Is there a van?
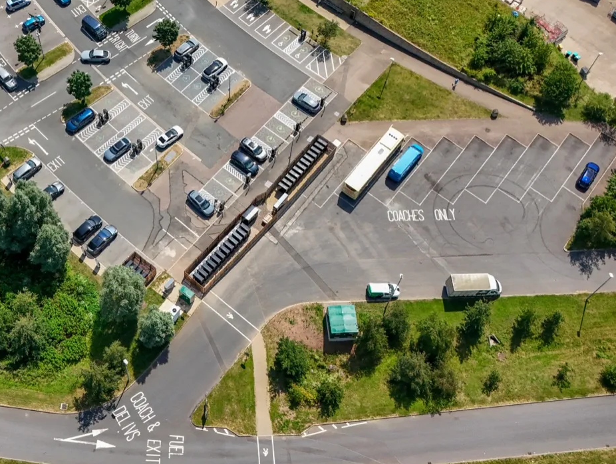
Yes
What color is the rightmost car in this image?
blue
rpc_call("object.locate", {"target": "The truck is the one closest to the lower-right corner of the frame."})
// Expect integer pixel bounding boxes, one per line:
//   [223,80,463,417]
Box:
[443,273,501,299]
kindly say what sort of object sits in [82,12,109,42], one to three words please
vehicle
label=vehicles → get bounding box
[362,281,402,300]
[101,136,136,162]
[153,124,187,151]
[58,0,71,6]
[0,63,19,94]
[82,12,109,42]
[2,0,35,13]
[69,214,105,245]
[385,143,423,183]
[236,133,270,161]
[291,90,324,115]
[201,55,229,79]
[443,273,501,299]
[229,150,259,175]
[575,162,600,191]
[338,125,410,208]
[20,16,47,30]
[84,223,120,256]
[65,109,95,132]
[79,48,112,63]
[172,37,201,60]
[184,188,217,217]
[9,155,44,178]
